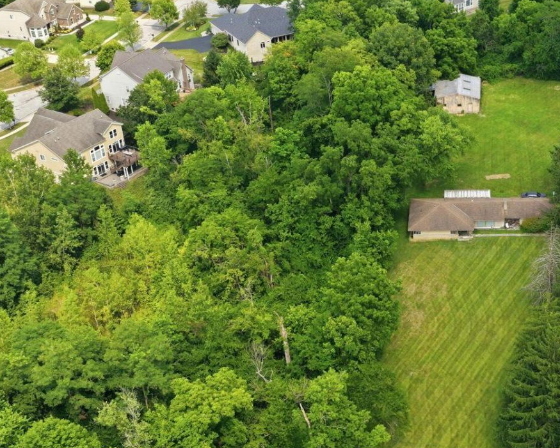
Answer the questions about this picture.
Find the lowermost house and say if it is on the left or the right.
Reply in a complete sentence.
The lowermost house sits on the right side.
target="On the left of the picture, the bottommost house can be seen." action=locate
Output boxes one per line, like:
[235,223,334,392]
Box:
[0,107,141,189]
